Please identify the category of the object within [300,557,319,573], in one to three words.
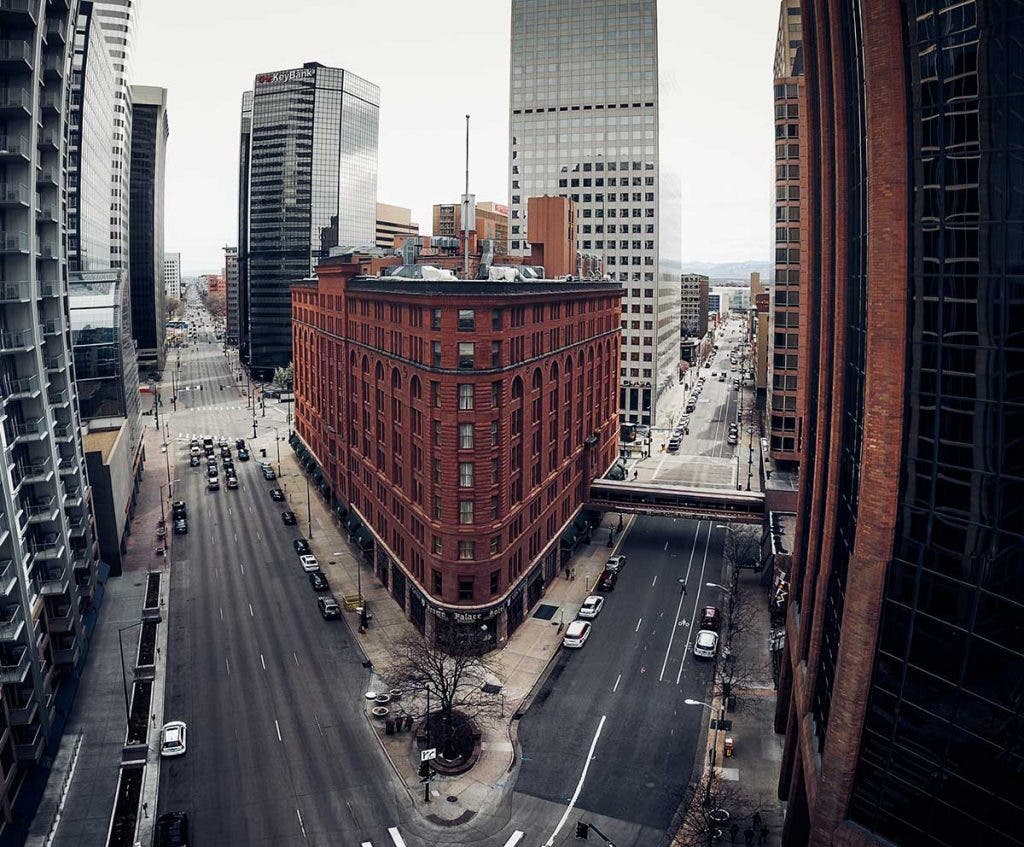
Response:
car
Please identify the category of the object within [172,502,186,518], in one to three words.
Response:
vehicle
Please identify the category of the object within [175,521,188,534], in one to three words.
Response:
vehicle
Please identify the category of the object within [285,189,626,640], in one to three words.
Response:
building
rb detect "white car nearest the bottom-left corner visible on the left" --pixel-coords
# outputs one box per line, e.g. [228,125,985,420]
[161,724,186,757]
